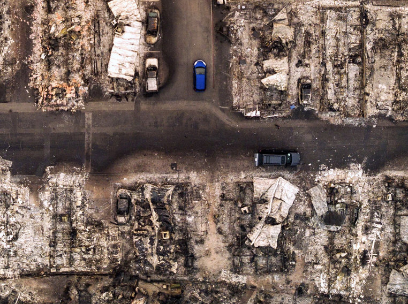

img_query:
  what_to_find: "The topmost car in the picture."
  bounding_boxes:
[145,9,160,44]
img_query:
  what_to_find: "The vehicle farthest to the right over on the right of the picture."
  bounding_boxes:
[297,81,312,105]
